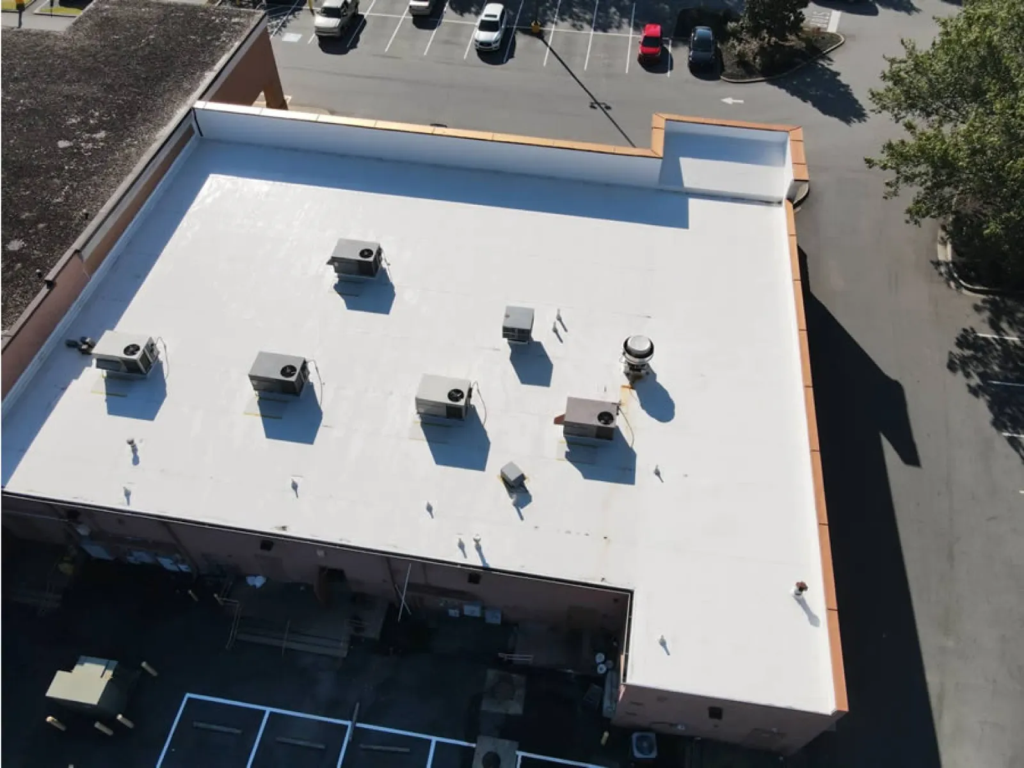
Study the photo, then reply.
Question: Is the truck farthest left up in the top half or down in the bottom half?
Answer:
top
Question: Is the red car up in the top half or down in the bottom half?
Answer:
top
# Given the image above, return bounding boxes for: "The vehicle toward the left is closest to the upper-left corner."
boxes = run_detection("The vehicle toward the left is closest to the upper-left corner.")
[311,0,356,37]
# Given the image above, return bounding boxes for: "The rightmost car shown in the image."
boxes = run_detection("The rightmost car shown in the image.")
[689,28,720,69]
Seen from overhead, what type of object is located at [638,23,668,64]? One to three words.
car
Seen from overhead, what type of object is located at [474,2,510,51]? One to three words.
car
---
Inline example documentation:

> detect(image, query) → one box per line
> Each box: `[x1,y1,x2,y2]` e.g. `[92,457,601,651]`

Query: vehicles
[689,28,720,69]
[474,2,510,51]
[638,23,668,64]
[410,0,438,14]
[311,0,356,37]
